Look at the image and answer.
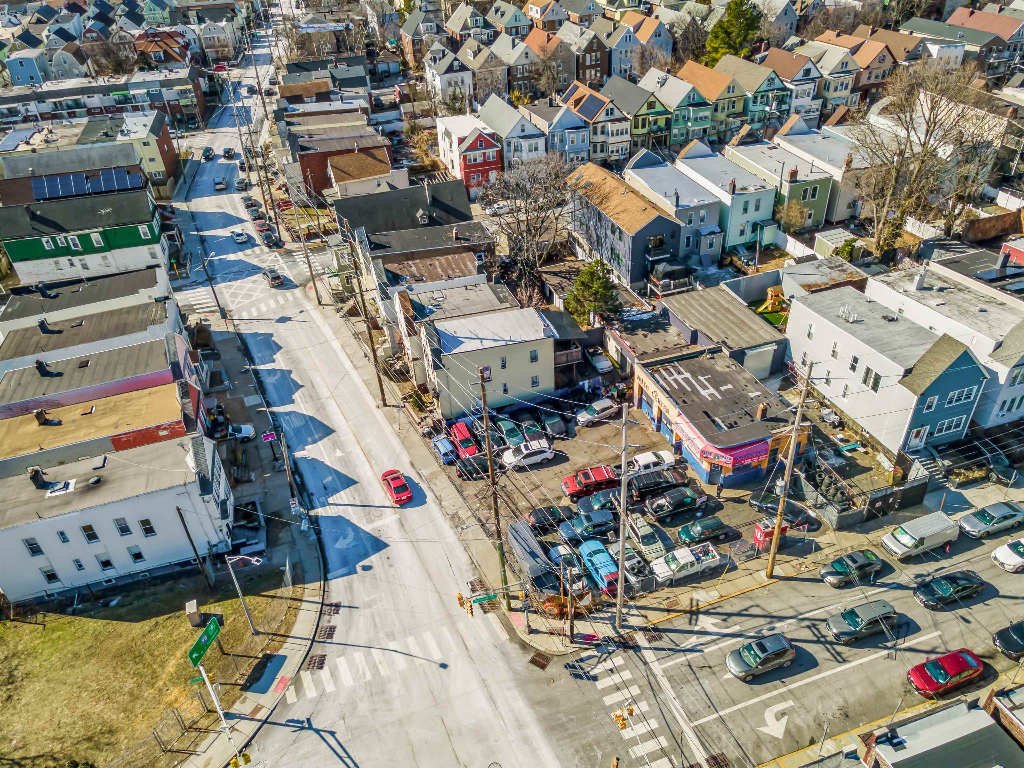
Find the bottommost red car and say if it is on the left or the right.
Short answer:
right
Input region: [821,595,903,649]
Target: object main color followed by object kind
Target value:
gray car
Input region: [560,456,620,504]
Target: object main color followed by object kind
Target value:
red car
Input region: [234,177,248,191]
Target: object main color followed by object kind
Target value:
gray car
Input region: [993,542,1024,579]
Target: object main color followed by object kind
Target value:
white car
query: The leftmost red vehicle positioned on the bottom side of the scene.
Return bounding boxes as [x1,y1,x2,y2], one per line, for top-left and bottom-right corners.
[379,468,418,510]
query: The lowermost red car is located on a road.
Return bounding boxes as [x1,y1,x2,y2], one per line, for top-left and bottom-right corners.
[902,645,988,703]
